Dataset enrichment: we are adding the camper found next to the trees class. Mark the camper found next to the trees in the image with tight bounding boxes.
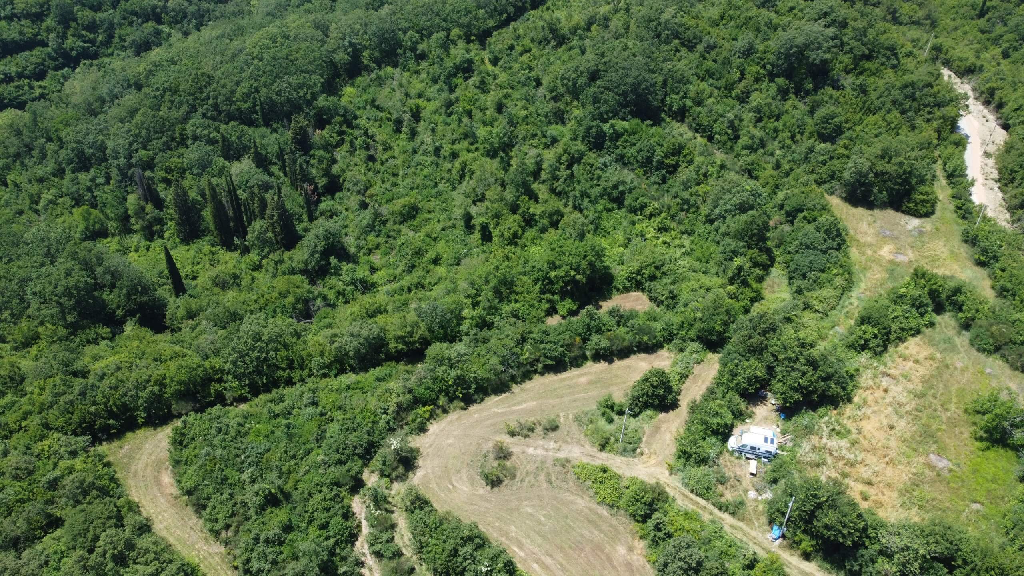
[727,434,783,466]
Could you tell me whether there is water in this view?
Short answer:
No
